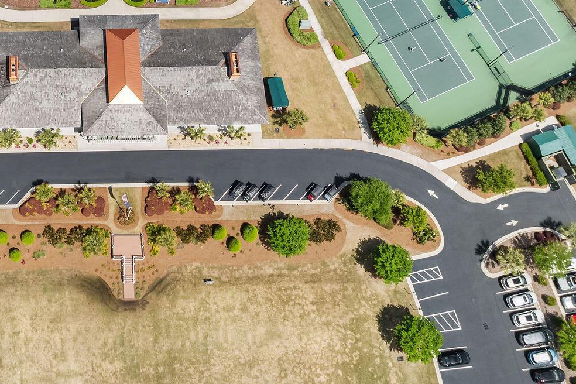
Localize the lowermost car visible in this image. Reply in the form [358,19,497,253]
[533,366,567,383]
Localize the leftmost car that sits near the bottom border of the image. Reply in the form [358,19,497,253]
[438,350,472,368]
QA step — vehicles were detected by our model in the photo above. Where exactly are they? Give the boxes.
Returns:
[512,309,546,327]
[438,350,472,368]
[321,183,341,203]
[306,183,324,203]
[259,183,277,201]
[527,348,561,366]
[506,292,539,309]
[241,183,260,201]
[562,294,576,309]
[500,273,533,289]
[549,258,576,275]
[533,366,567,383]
[555,274,576,290]
[229,180,247,199]
[520,328,554,345]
